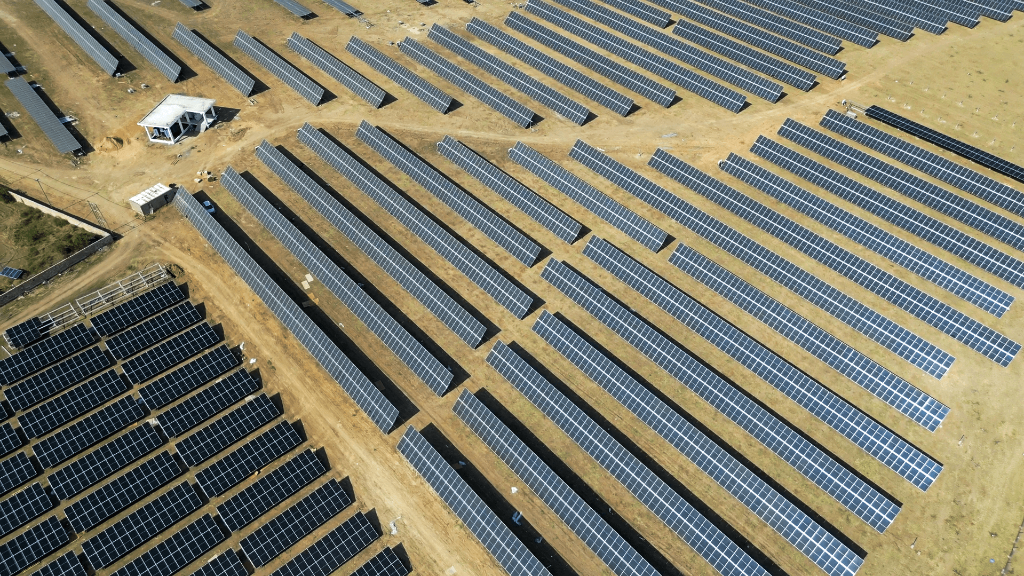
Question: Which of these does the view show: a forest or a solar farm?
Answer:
solar farm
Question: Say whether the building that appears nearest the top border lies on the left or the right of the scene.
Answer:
left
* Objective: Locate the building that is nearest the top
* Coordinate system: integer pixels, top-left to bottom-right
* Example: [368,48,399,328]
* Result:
[138,94,218,143]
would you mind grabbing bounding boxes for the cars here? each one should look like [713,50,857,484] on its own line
[202,201,216,214]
